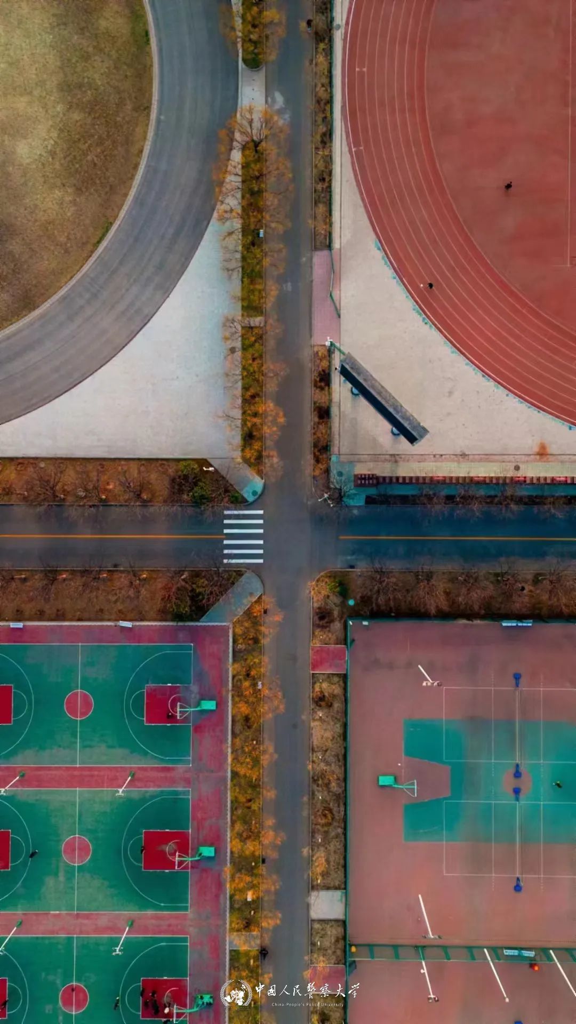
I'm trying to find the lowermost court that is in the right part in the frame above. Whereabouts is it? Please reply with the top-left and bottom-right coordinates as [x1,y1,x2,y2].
[346,947,576,1024]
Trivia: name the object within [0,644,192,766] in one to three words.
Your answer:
basketball court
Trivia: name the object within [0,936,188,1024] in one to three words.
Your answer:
basketball court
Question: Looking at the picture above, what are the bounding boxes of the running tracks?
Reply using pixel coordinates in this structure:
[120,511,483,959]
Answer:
[342,0,576,425]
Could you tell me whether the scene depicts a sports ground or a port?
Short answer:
sports ground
